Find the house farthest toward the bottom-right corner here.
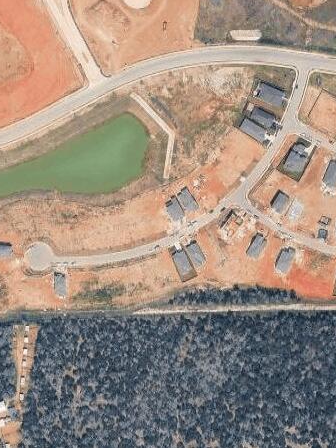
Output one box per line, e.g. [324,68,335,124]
[275,249,296,273]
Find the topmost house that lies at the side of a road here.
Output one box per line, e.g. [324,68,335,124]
[256,83,286,105]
